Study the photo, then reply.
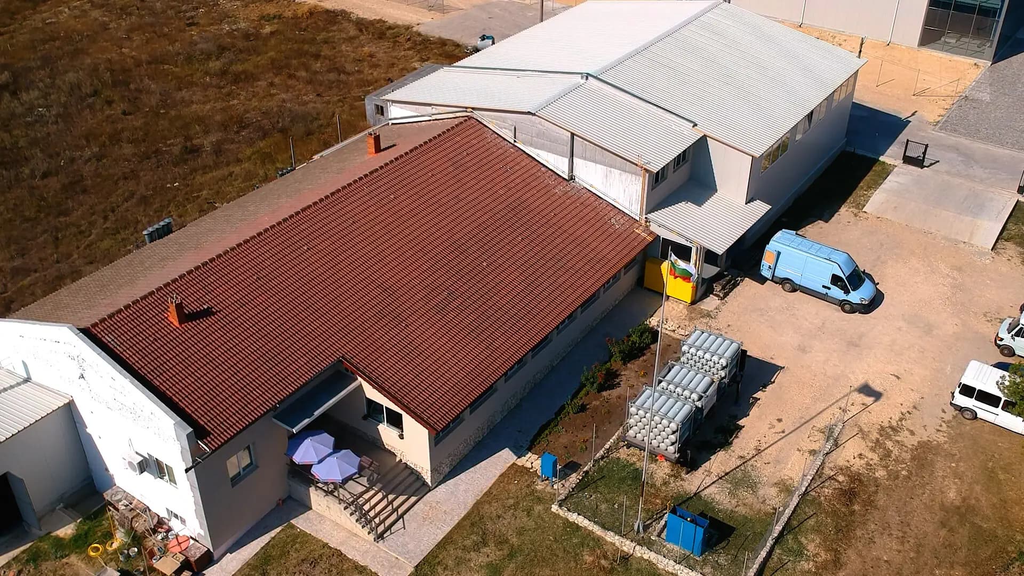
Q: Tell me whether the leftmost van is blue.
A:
Yes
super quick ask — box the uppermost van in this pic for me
[755,231,878,314]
